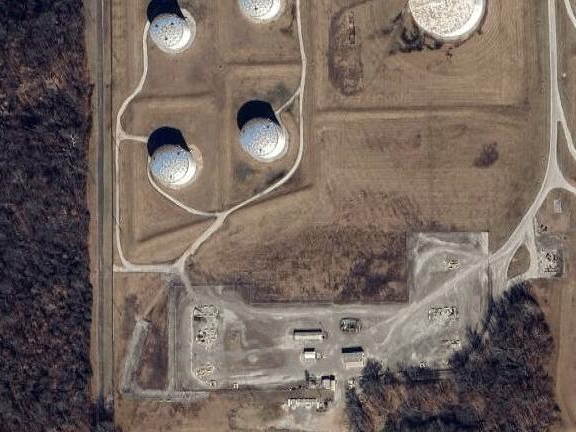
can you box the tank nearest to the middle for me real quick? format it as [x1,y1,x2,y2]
[240,118,284,160]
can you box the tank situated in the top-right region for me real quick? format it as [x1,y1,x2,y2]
[408,0,485,41]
